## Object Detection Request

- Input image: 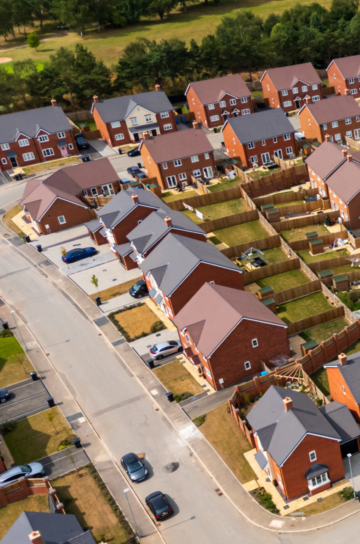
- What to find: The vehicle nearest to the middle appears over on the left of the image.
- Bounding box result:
[126,280,148,298]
